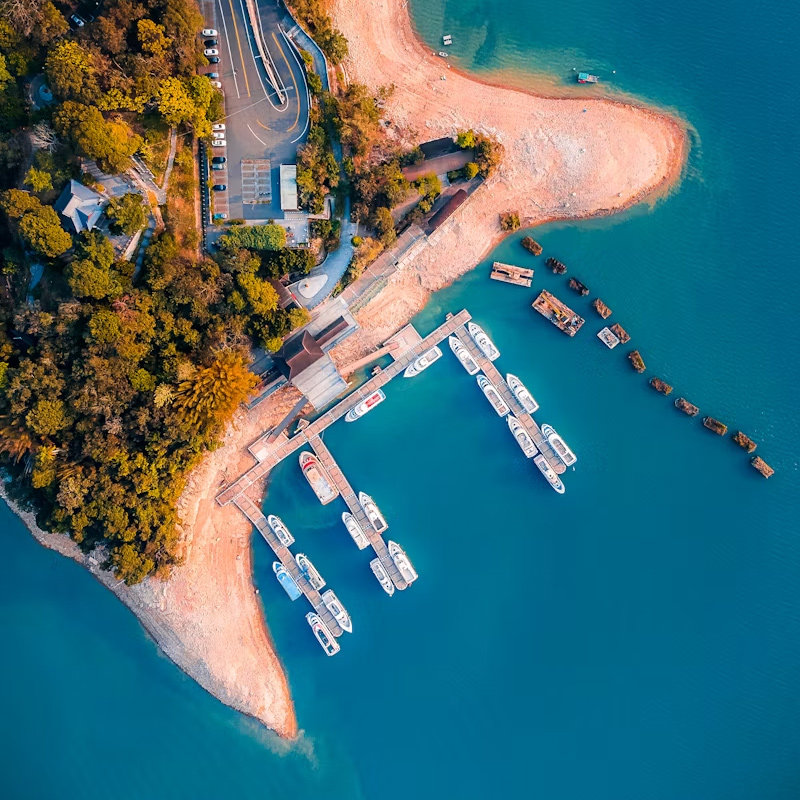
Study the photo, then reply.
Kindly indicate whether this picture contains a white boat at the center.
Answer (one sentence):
Yes, a white boat appears at the center.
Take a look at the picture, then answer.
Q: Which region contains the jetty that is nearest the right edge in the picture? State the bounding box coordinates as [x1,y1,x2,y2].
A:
[455,321,564,473]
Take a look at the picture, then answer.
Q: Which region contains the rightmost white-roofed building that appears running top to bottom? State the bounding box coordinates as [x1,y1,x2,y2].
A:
[280,164,298,211]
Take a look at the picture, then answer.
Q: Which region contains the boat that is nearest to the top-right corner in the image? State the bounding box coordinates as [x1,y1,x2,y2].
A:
[577,70,599,84]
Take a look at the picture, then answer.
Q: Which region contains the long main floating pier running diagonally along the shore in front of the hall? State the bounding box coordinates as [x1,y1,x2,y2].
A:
[216,309,472,506]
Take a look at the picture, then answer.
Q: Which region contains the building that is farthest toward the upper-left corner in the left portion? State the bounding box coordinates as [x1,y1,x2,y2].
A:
[55,178,106,233]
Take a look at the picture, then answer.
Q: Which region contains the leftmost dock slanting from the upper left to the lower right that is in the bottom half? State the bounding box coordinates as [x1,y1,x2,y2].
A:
[235,496,345,634]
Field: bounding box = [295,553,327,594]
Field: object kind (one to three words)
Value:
boat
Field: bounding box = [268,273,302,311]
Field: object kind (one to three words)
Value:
building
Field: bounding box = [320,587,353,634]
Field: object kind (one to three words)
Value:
boat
